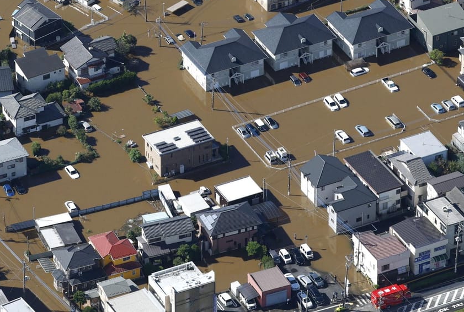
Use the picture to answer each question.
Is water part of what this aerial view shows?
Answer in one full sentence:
Yes, some water is visible.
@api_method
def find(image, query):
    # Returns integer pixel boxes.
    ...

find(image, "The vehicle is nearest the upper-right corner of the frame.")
[421,67,437,80]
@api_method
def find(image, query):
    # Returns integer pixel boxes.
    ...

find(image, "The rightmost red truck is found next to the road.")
[372,286,410,310]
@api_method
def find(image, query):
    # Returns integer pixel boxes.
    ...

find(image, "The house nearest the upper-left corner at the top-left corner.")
[14,4,61,44]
